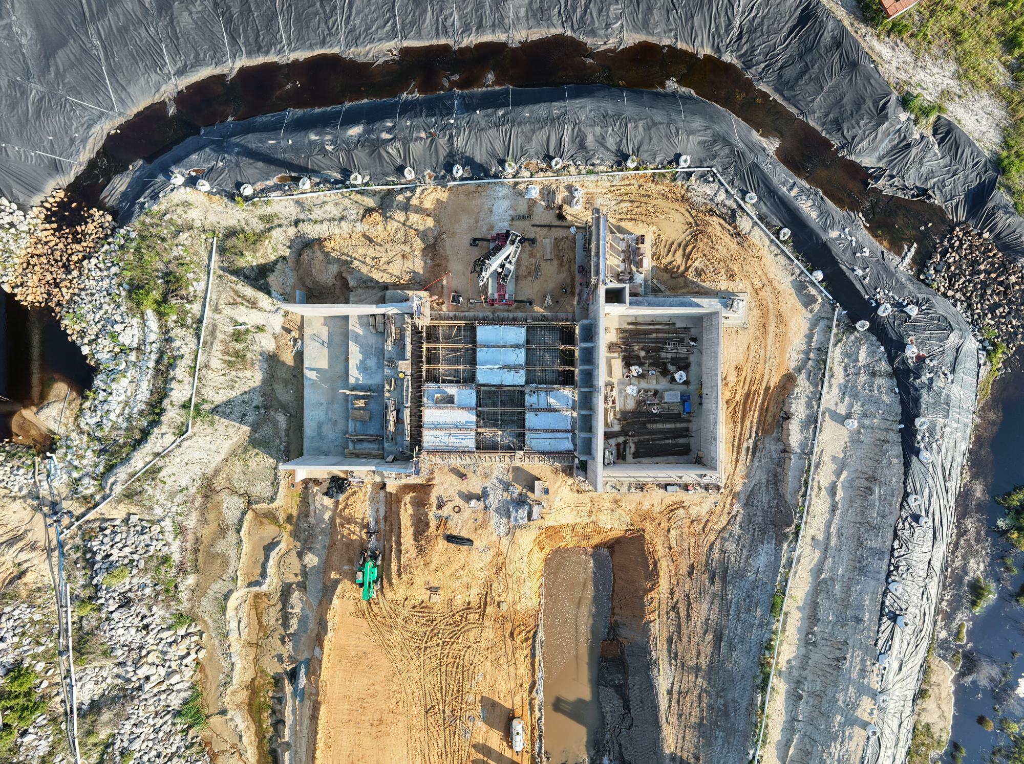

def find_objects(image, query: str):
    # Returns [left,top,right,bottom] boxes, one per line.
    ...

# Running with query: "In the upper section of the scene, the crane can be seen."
[467,220,540,308]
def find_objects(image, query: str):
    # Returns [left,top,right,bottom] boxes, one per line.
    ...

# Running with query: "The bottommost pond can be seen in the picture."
[543,549,611,764]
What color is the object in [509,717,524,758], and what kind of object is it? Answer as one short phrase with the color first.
white vehicle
